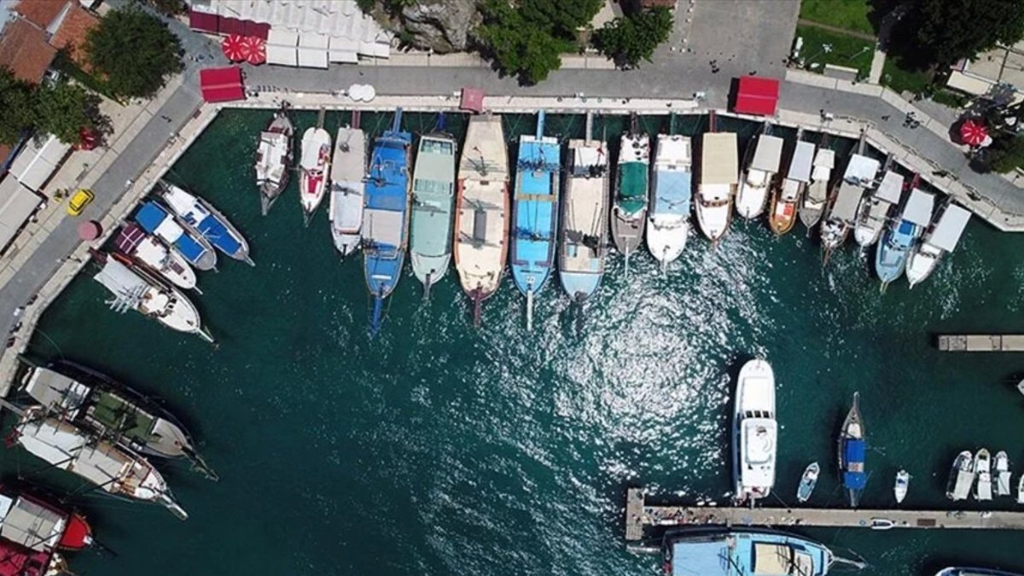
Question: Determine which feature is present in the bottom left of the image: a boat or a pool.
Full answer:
Visible in the bottom left of the image is a boat.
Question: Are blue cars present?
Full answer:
No, there is no blue car in the image.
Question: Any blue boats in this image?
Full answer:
Yes, you can see a blue boat in this photo.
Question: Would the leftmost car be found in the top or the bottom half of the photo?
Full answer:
The top half of the photo is where the leftmost car is.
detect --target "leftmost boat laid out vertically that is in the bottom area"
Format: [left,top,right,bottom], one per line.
[731,359,789,511]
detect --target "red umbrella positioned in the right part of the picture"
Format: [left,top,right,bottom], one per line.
[959,120,988,145]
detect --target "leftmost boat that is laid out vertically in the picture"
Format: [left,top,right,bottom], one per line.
[249,101,301,214]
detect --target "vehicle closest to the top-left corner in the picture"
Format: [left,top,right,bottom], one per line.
[63,186,93,217]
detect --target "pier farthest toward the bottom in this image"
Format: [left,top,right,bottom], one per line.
[626,487,1024,540]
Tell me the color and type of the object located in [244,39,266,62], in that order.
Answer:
red umbrella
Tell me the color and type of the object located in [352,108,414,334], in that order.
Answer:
blue boat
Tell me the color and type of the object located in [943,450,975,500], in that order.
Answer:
white boat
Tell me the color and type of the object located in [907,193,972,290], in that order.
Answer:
white boat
